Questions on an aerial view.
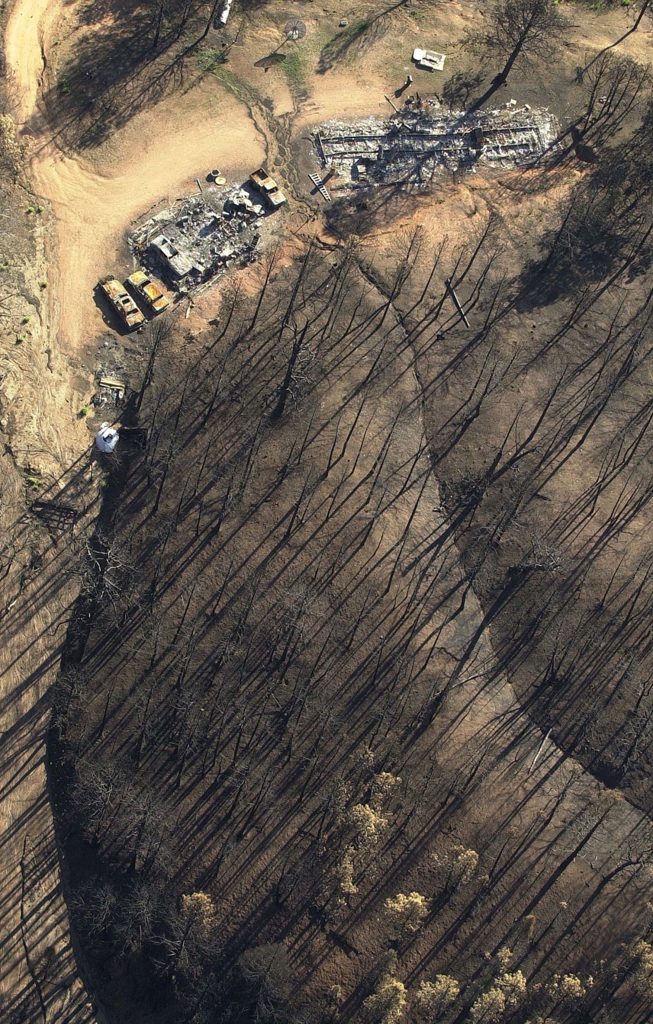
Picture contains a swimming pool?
No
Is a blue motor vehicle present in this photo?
No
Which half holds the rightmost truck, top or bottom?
top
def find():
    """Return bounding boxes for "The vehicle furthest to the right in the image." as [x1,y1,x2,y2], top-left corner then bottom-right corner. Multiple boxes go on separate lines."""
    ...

[248,166,287,207]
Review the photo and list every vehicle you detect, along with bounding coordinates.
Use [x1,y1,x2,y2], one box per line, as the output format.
[149,234,195,280]
[100,279,145,329]
[127,271,168,315]
[248,166,287,207]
